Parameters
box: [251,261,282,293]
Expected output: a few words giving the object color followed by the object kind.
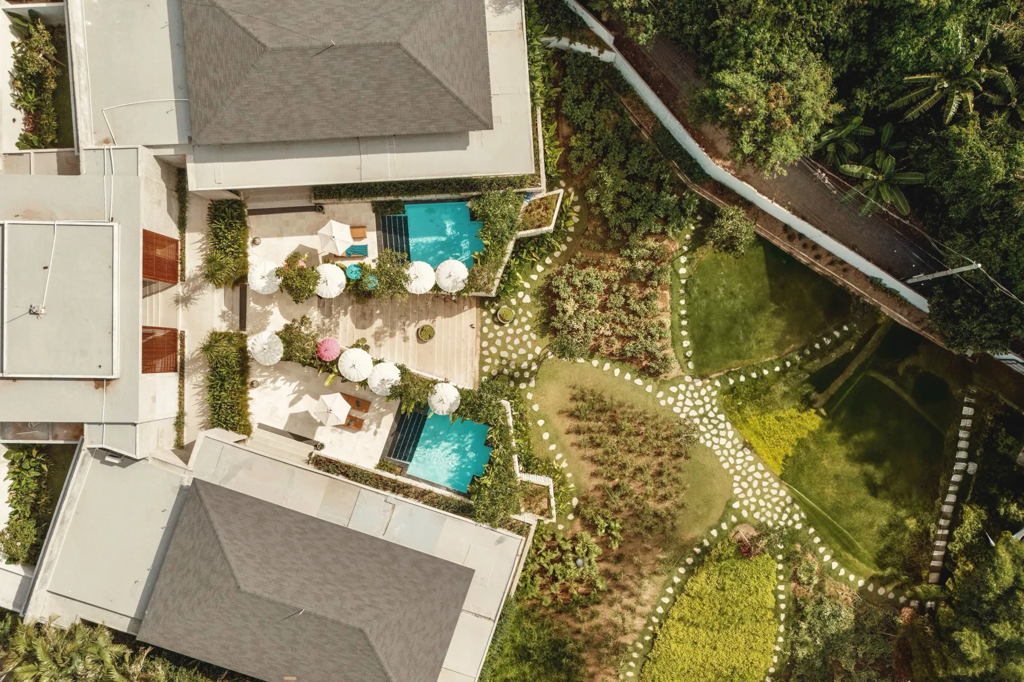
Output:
white umbrella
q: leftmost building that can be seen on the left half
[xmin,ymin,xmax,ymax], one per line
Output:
[0,143,181,464]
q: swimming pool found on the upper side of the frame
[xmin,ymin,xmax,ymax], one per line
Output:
[375,198,485,273]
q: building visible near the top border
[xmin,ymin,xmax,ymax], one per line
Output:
[68,0,534,199]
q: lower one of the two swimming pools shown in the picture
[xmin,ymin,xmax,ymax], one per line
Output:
[380,401,496,500]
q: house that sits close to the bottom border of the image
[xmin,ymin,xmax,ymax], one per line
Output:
[23,430,525,682]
